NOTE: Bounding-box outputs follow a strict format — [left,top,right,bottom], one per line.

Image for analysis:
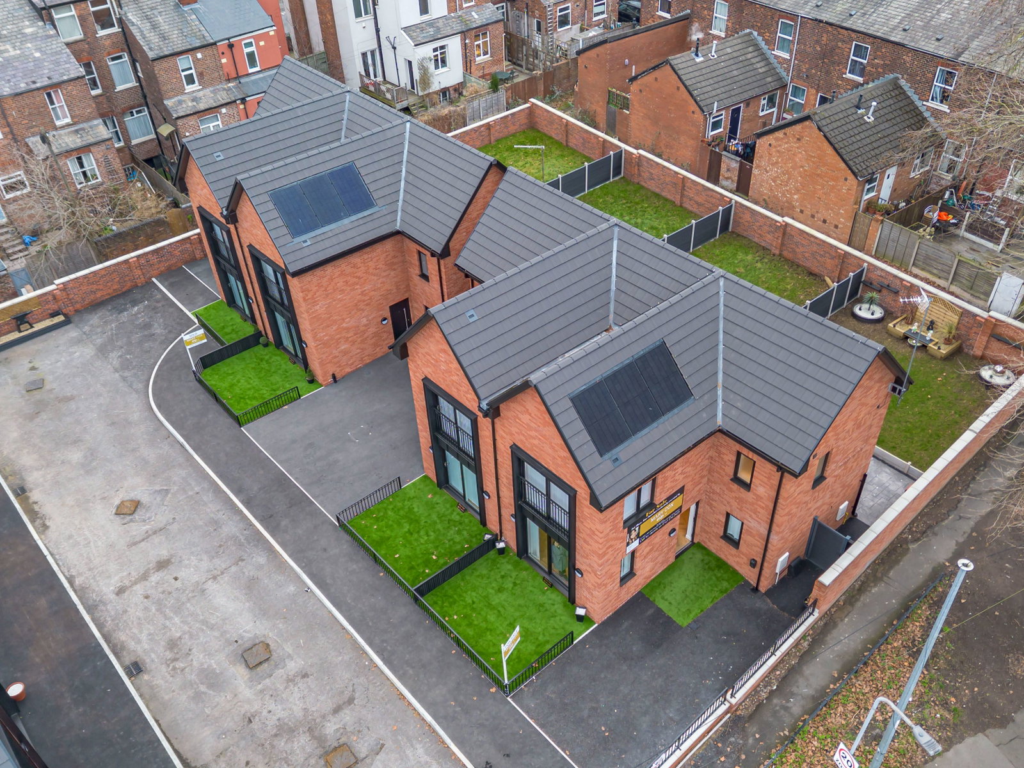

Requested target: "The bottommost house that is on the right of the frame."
[387,165,915,622]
